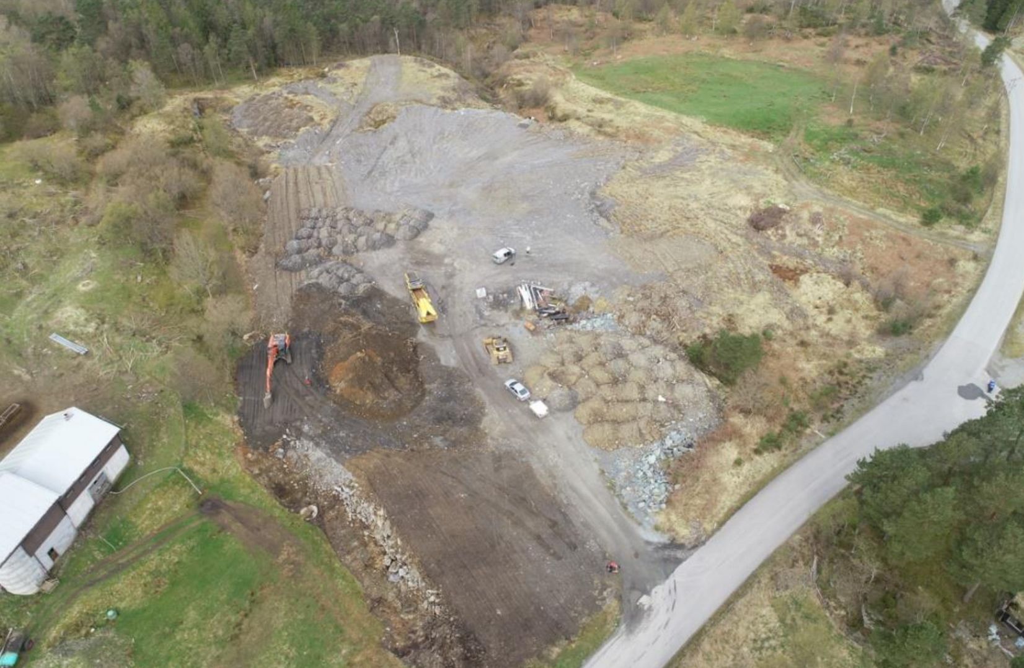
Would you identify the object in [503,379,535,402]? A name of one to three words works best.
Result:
car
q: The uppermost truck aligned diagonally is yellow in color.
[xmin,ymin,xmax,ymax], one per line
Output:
[403,274,440,321]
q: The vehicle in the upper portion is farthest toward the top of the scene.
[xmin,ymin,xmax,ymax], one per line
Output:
[490,245,516,262]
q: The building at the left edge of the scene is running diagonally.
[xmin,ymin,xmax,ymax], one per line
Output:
[0,407,131,610]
